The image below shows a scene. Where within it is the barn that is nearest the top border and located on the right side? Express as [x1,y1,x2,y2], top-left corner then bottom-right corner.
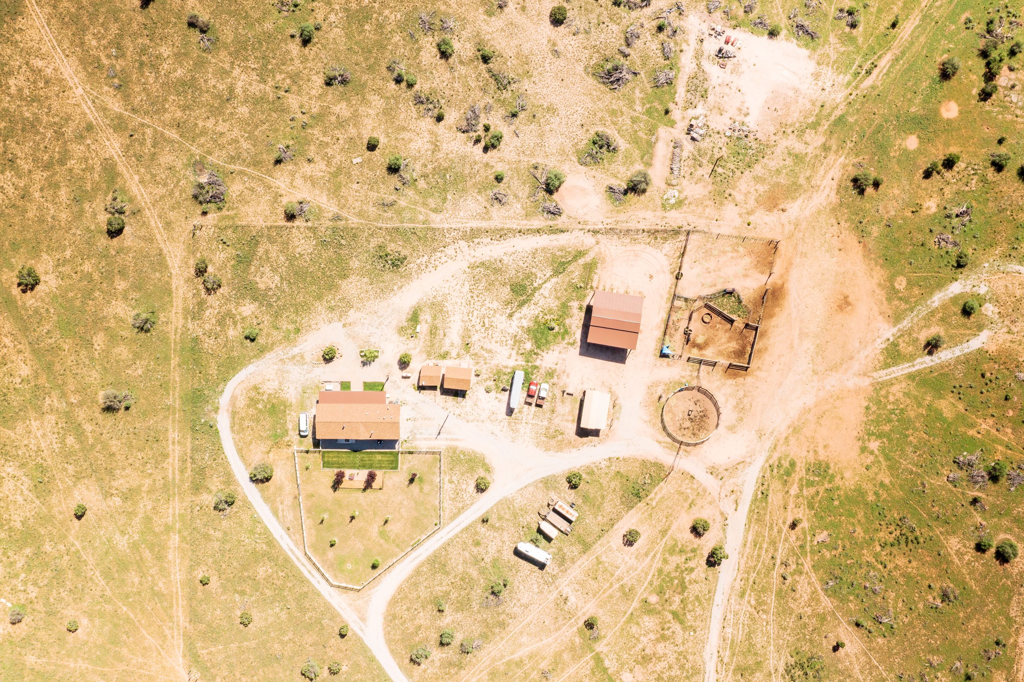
[586,291,643,350]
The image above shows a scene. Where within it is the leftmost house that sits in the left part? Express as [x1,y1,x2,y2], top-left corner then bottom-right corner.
[315,391,400,443]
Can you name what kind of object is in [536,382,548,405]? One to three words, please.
vehicle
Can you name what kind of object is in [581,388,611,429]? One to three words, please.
building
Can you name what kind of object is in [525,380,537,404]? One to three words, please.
vehicle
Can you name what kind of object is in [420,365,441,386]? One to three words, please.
shed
